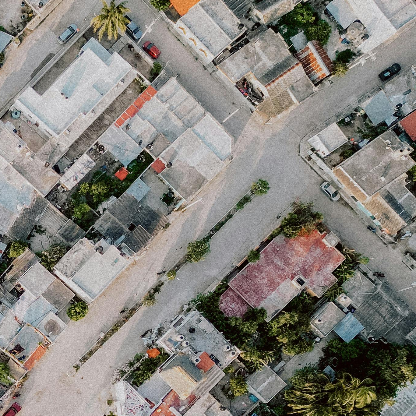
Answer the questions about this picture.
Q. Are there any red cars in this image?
Yes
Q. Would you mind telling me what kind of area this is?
residential area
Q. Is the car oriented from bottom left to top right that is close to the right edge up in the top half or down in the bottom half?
top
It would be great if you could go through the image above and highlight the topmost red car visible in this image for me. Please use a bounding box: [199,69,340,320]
[141,40,162,61]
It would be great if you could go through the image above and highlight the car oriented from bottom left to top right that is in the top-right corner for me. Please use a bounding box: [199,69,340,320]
[375,61,402,84]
